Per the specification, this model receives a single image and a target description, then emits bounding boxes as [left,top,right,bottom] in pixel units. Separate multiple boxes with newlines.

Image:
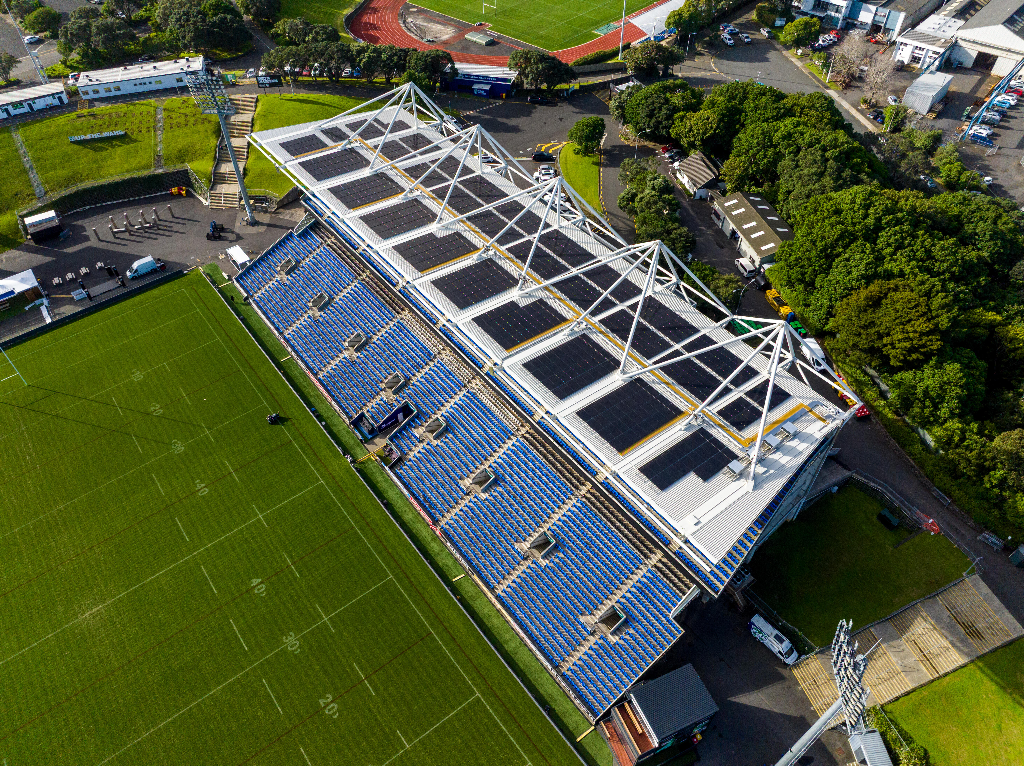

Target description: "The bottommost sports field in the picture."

[0,268,578,766]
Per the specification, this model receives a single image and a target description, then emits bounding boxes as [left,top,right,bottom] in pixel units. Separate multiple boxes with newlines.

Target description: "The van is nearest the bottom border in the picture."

[742,611,799,665]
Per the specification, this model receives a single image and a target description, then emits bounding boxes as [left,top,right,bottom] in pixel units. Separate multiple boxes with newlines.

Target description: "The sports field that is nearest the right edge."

[408,0,663,50]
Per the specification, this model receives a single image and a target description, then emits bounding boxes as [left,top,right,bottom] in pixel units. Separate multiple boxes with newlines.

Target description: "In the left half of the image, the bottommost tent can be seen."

[0,269,45,305]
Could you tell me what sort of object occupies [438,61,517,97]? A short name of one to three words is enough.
building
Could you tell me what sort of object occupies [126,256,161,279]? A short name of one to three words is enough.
vehicle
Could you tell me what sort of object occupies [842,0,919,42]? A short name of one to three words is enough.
building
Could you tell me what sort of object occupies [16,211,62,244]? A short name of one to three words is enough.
shed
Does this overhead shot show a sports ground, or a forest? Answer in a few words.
sports ground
